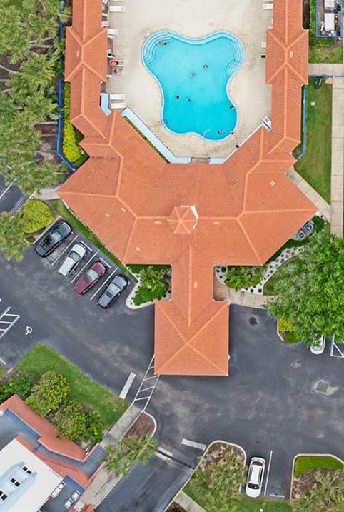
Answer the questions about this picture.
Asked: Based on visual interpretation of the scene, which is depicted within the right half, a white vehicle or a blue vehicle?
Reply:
white vehicle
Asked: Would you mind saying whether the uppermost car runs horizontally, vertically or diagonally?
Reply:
diagonally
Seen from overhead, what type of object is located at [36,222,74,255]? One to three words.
car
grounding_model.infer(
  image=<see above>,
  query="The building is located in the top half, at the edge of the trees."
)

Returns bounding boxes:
[56,0,318,376]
